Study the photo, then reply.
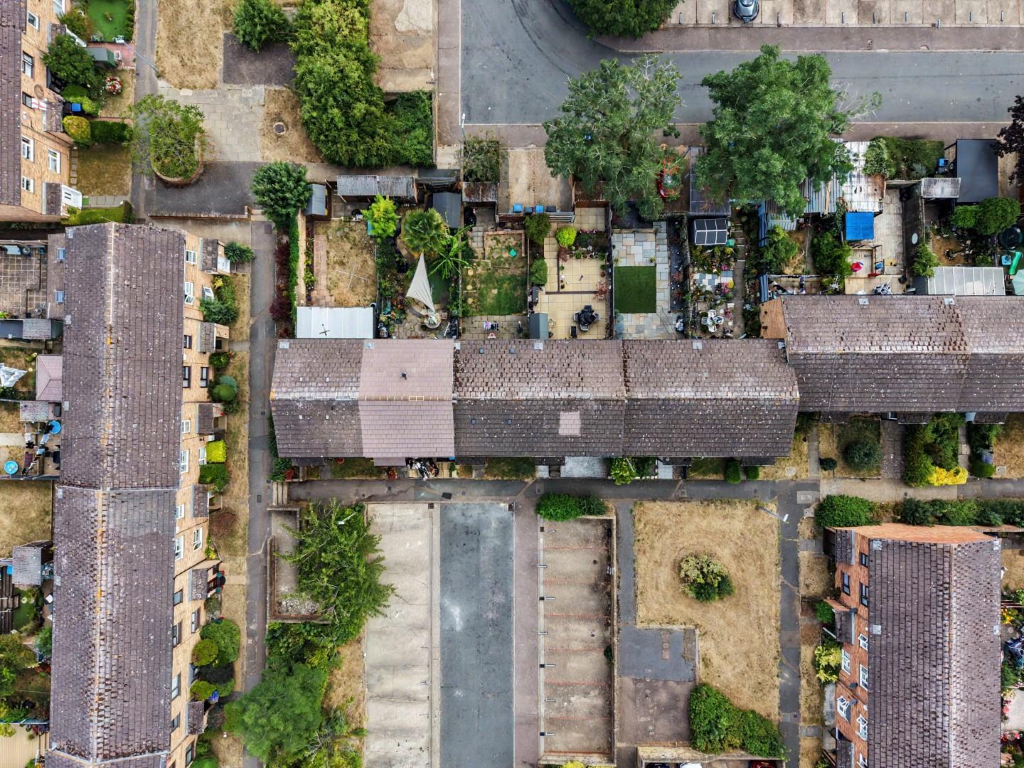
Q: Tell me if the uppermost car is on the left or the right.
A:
right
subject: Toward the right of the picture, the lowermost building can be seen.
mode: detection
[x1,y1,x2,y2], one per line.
[822,679,1003,768]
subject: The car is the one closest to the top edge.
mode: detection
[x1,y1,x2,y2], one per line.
[731,0,762,22]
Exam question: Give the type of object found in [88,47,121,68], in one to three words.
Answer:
building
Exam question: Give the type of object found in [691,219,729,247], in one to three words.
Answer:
greenhouse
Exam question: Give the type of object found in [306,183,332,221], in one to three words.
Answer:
shed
